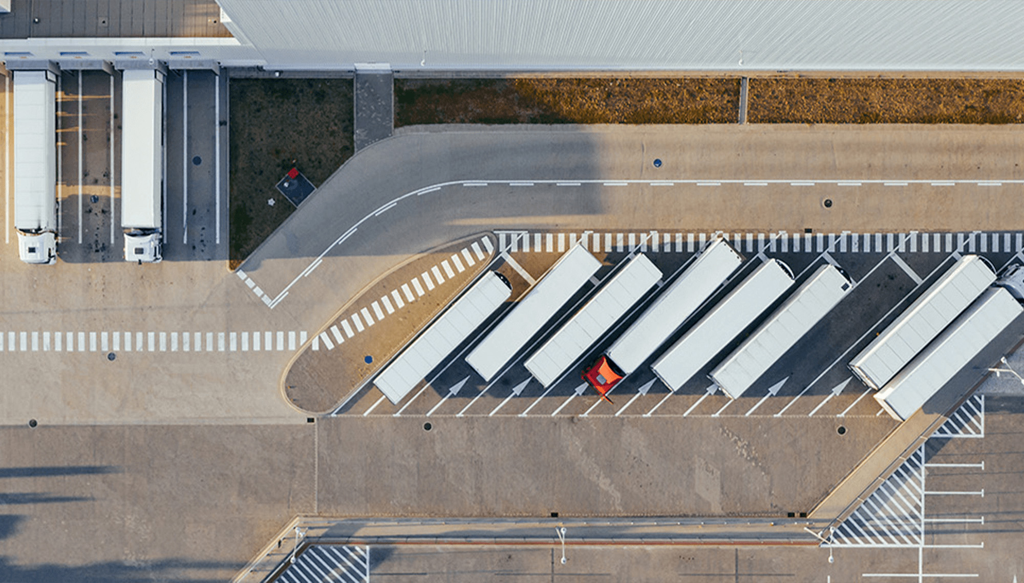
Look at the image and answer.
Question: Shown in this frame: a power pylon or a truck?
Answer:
truck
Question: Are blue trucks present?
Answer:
No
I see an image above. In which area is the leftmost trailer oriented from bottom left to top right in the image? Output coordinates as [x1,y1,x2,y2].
[374,270,511,404]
